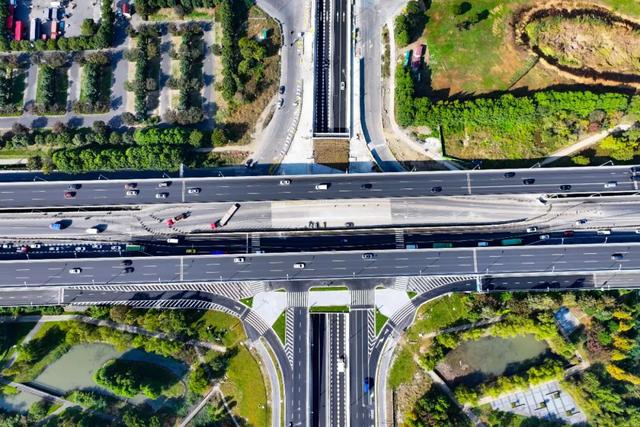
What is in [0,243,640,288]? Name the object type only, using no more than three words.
bridge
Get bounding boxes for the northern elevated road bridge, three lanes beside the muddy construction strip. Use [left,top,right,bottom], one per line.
[0,164,640,209]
